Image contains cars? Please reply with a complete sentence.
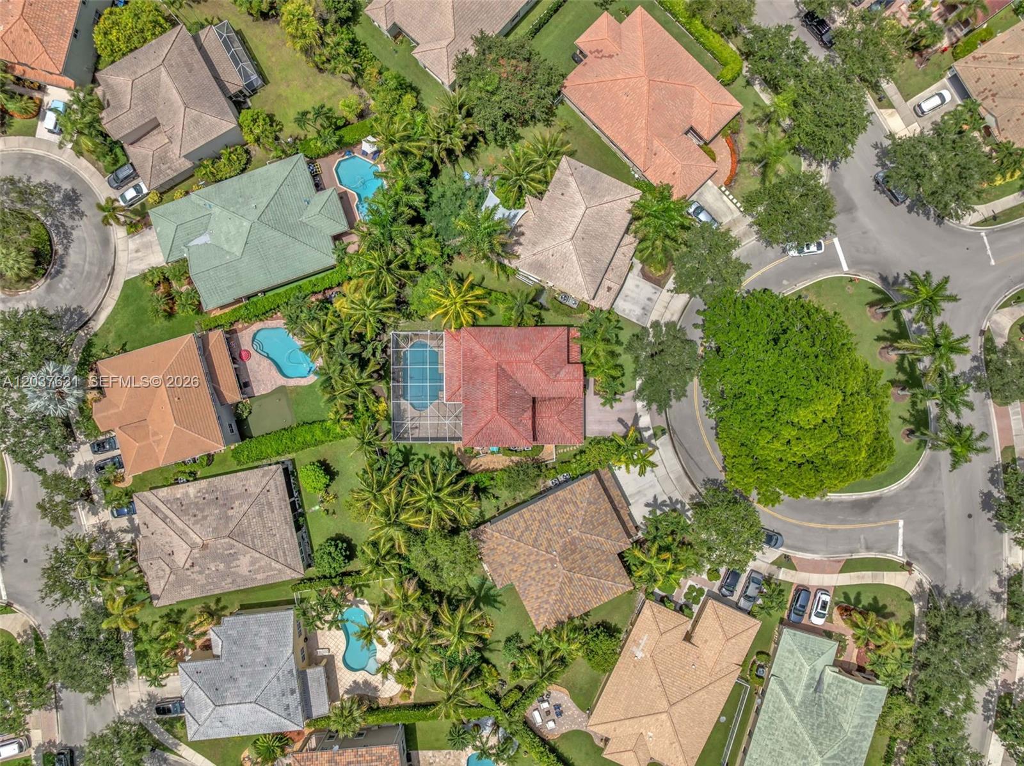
Yes, this view includes a car.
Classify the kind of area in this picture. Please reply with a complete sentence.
What you see here is a residential area.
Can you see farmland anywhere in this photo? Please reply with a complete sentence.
No, there's no farmland in this view.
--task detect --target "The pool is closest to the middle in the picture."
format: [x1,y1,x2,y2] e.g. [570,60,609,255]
[400,338,442,413]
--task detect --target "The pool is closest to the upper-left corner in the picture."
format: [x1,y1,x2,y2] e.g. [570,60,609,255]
[331,153,388,223]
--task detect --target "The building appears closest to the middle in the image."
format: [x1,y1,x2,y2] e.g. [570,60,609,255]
[445,326,584,447]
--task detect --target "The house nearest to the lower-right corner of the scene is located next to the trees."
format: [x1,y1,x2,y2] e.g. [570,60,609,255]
[735,624,887,766]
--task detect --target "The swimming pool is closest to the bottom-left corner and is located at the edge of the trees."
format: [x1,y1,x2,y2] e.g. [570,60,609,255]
[338,605,381,677]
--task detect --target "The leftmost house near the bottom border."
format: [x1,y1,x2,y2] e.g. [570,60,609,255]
[179,603,331,741]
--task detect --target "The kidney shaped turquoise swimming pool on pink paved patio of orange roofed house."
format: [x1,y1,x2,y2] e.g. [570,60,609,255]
[250,324,319,380]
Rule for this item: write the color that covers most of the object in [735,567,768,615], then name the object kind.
gray car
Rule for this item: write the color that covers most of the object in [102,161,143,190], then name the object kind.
gray car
